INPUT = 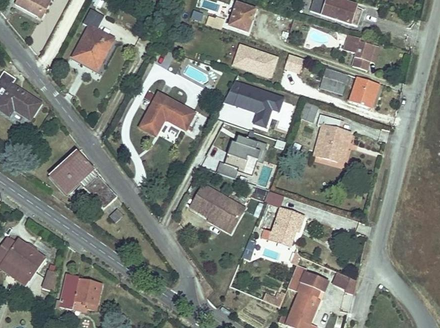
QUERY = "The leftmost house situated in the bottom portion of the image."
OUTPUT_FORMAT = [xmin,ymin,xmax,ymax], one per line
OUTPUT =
[0,237,46,283]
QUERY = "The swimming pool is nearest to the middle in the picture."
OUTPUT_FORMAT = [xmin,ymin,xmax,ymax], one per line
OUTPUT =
[252,162,276,189]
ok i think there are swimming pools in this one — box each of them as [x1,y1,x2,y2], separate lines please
[252,162,276,189]
[262,248,280,260]
[179,58,222,88]
[304,28,346,48]
[195,0,232,20]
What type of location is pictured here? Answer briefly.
residential area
